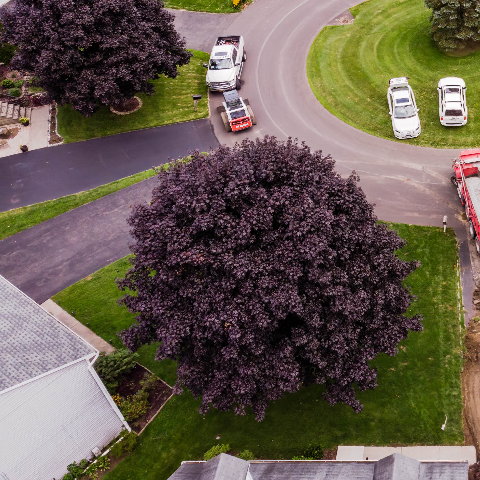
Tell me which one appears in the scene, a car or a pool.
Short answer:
car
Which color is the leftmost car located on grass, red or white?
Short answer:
white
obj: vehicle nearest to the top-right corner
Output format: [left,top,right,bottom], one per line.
[437,78,468,124]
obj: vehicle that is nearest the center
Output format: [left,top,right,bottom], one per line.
[213,89,257,137]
